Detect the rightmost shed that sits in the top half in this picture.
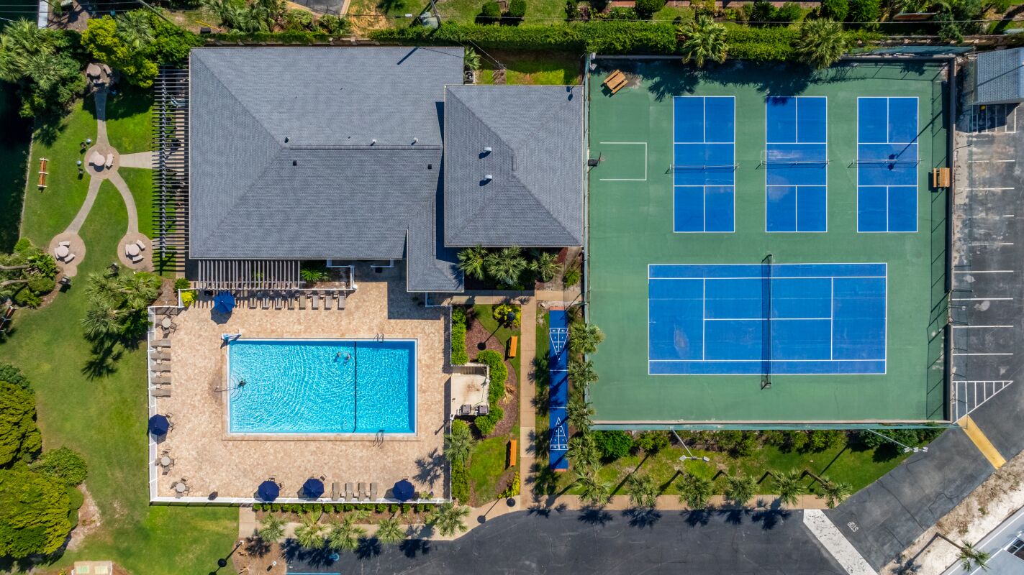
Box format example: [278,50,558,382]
[959,48,1024,108]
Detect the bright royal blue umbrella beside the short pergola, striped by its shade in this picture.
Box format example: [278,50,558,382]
[214,290,236,312]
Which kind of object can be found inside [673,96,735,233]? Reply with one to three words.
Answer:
sports court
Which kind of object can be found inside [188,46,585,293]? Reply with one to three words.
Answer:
building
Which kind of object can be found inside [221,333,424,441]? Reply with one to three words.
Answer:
swimming pool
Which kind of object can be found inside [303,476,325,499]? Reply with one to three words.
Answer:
umbrella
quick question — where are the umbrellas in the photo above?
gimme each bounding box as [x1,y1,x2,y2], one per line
[214,290,236,312]
[149,413,173,436]
[258,479,281,502]
[303,476,325,499]
[393,479,415,501]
